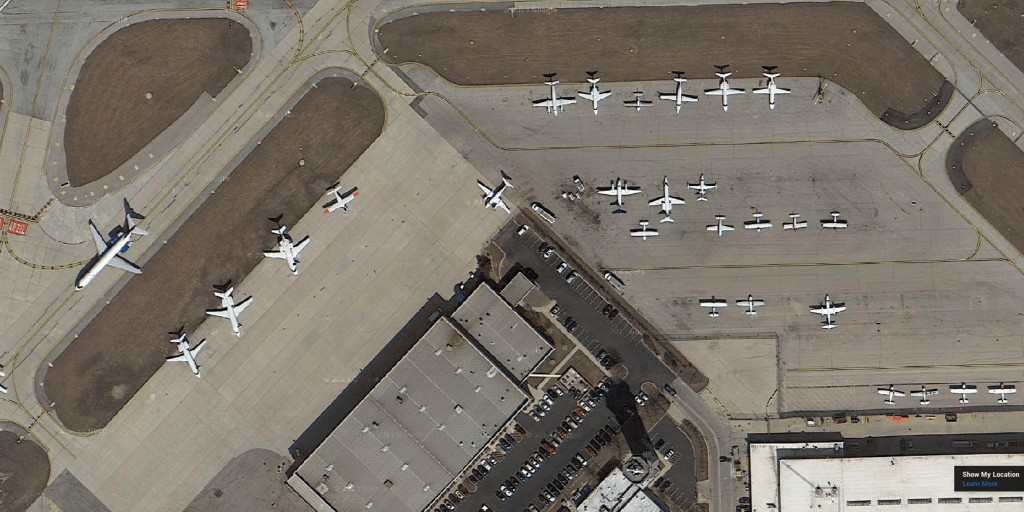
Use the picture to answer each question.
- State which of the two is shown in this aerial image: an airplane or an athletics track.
airplane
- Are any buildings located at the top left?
No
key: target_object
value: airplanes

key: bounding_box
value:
[737,296,765,315]
[597,180,641,214]
[810,296,847,329]
[699,297,727,316]
[744,213,772,233]
[264,225,308,275]
[76,215,148,290]
[688,174,716,203]
[660,78,698,114]
[322,186,356,212]
[631,222,658,241]
[950,384,977,403]
[877,386,905,405]
[577,79,610,115]
[478,177,512,211]
[706,218,734,236]
[624,93,653,112]
[533,81,576,115]
[168,336,205,378]
[910,386,938,405]
[649,179,685,221]
[704,74,745,111]
[752,72,792,109]
[988,384,1016,403]
[207,289,251,337]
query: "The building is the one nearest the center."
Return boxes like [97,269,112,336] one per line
[500,273,536,306]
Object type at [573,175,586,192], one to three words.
vehicle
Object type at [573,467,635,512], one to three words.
building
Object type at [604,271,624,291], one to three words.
vehicle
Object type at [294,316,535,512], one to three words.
building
